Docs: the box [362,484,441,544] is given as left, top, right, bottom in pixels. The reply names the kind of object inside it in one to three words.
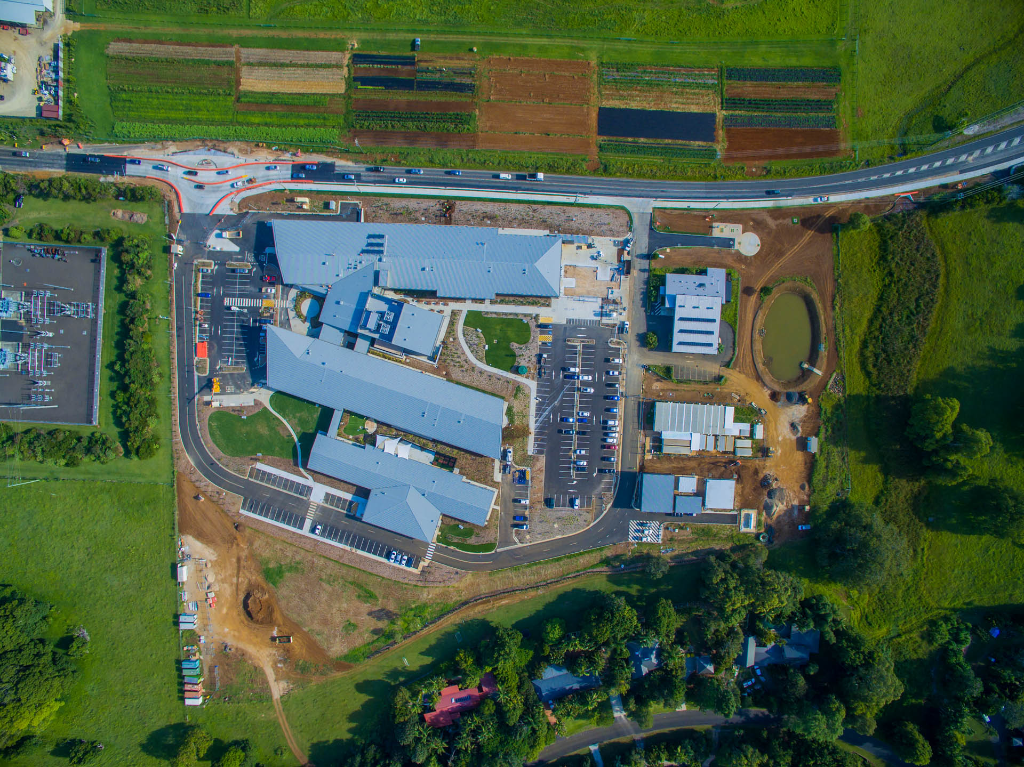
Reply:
building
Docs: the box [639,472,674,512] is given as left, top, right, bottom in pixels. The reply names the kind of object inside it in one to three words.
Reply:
shed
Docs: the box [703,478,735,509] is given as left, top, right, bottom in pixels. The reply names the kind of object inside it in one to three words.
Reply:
shed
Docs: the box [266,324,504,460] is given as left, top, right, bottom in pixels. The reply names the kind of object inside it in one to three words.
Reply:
building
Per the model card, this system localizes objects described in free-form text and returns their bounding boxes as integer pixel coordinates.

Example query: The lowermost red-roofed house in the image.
[424,673,499,728]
